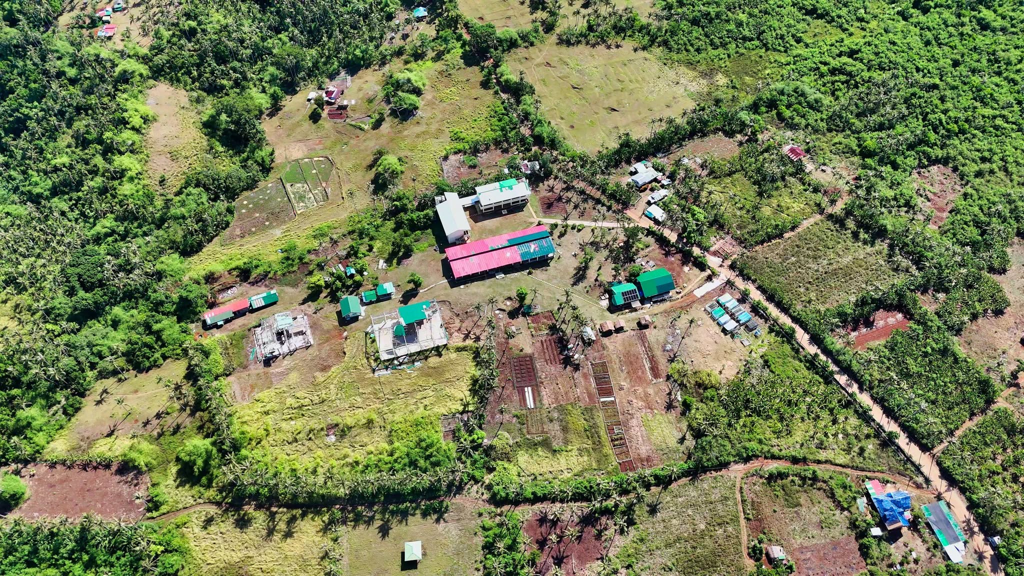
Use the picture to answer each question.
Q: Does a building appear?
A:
Yes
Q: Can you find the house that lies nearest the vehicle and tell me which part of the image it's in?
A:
bottom right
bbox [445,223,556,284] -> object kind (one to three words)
building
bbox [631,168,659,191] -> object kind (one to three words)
house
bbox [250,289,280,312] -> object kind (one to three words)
shed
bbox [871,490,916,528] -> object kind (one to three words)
house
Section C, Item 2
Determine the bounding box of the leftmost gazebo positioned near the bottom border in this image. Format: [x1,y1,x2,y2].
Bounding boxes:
[404,540,422,562]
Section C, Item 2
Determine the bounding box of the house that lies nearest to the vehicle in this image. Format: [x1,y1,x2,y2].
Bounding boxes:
[918,501,965,549]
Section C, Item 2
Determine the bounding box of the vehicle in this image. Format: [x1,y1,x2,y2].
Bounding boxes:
[988,532,1006,549]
